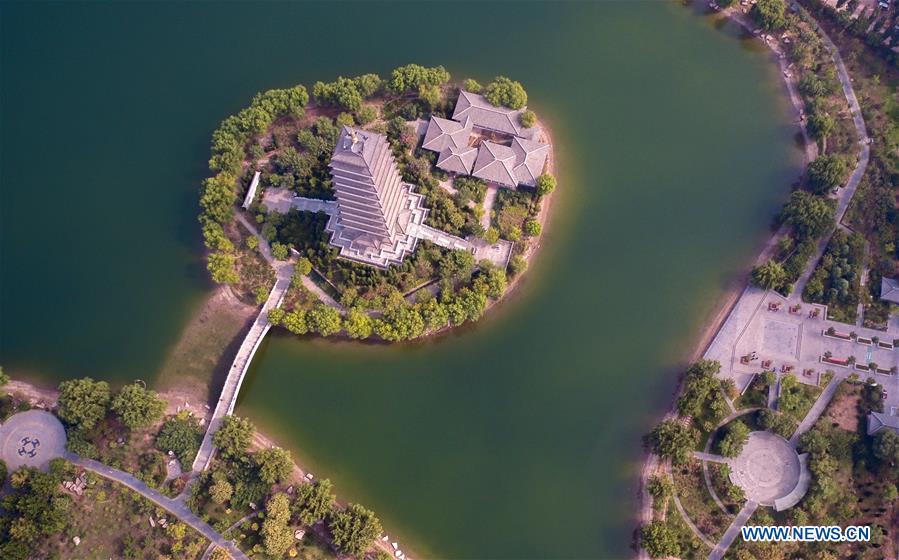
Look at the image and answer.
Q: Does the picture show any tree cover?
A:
Yes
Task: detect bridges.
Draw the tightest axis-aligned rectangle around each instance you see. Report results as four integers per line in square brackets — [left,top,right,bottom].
[187,267,292,484]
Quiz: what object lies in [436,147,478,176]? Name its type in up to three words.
building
